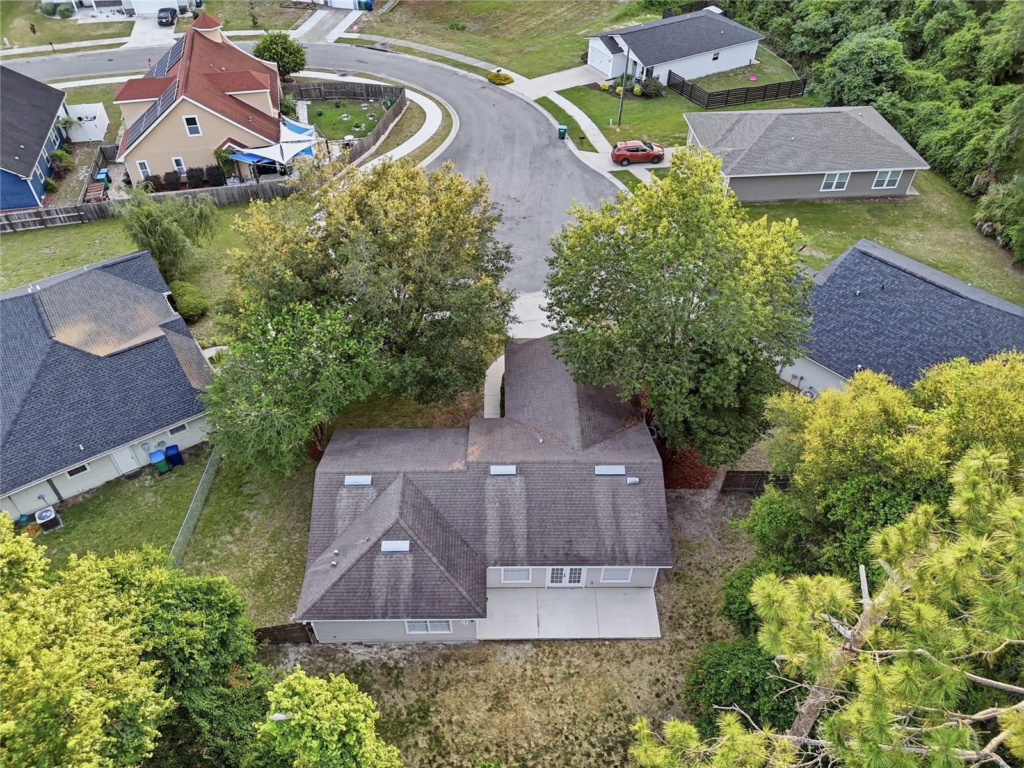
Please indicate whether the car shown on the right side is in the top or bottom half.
top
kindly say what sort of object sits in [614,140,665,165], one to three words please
car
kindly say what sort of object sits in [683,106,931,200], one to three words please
house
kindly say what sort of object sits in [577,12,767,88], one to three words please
house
